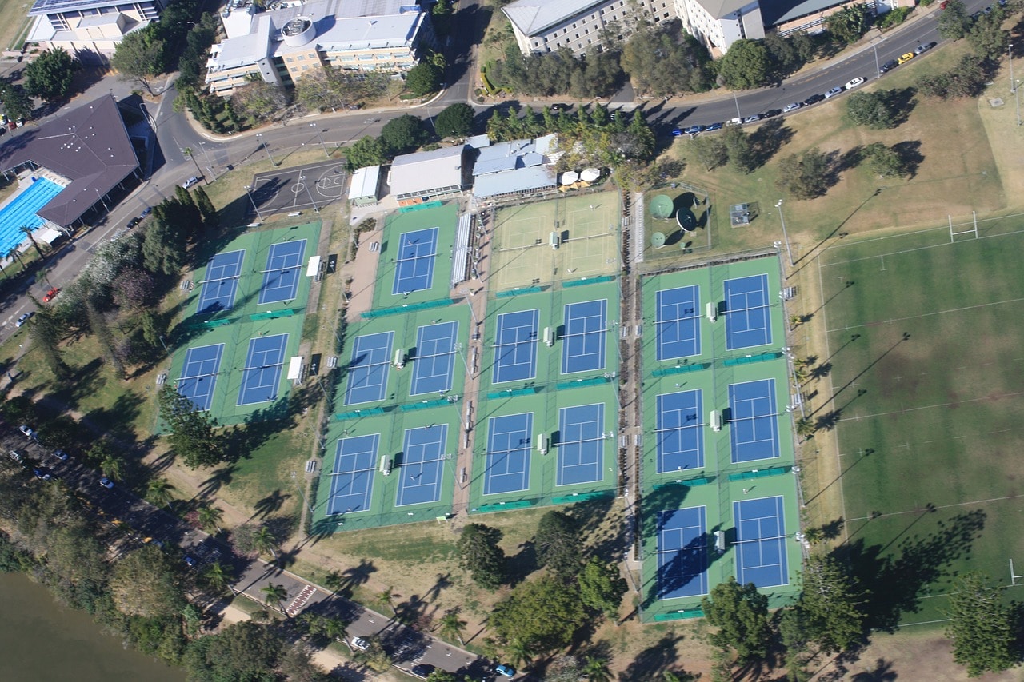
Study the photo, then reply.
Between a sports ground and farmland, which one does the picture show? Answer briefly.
sports ground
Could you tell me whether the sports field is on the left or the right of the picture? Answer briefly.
right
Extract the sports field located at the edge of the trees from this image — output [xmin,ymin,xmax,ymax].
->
[819,218,1024,645]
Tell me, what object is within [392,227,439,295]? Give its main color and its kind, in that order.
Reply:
blue tennis court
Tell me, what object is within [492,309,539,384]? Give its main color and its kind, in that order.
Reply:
blue tennis court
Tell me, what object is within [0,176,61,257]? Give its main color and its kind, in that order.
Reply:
blue swimming pool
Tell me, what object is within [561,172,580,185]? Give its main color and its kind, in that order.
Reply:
white umbrella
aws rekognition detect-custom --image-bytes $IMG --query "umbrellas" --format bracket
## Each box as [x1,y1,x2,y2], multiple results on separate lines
[561,172,580,185]
[580,168,601,183]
